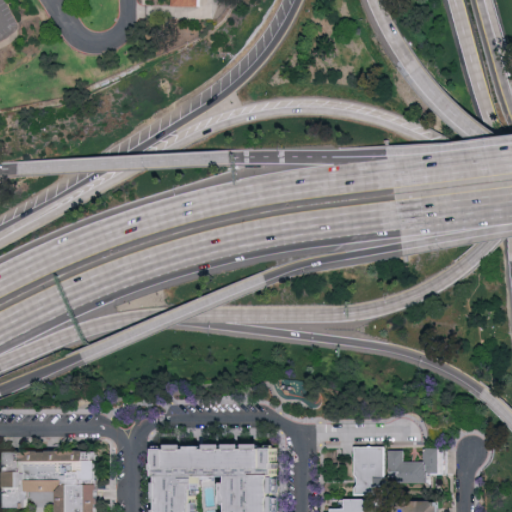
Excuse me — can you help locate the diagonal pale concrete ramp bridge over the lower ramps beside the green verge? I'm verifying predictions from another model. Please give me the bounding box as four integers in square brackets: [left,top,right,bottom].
[82,274,266,364]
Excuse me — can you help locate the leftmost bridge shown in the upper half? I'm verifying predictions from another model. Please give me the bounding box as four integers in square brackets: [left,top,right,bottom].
[16,150,229,175]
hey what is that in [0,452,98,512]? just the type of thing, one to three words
building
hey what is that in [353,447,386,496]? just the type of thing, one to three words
building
